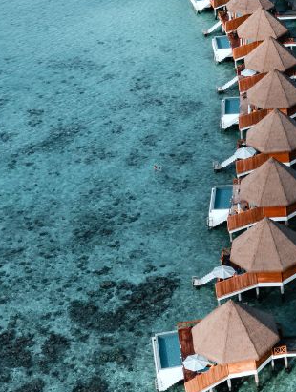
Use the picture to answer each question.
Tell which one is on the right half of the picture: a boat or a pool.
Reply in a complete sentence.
There is a pool on the right half of the picture.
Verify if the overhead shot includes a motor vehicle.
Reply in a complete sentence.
No, the photo shows no motor vehicle.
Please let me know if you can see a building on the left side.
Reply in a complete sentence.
No, the scene shows no building on the left side.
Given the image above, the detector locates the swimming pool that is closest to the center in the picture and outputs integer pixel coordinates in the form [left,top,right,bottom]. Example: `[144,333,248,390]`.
[208,184,231,219]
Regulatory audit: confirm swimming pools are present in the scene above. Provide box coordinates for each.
[220,95,240,123]
[211,33,231,55]
[208,184,231,219]
[190,0,208,9]
[152,330,183,381]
